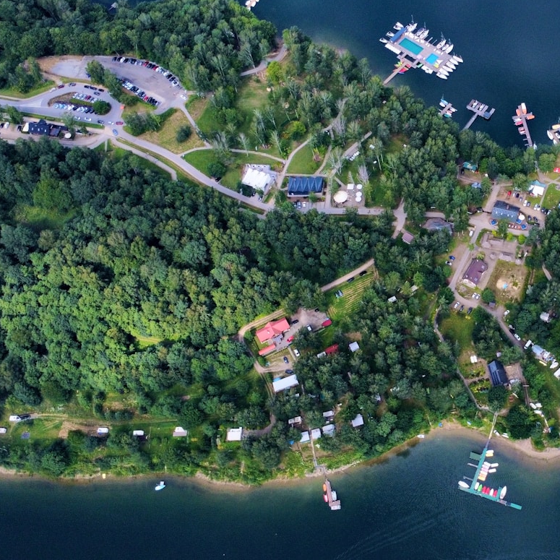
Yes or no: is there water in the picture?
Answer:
Yes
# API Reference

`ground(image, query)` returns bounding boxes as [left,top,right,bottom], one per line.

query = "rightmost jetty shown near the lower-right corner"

[458,434,523,510]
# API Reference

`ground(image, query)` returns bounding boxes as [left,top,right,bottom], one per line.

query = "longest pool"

[400,38,423,54]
